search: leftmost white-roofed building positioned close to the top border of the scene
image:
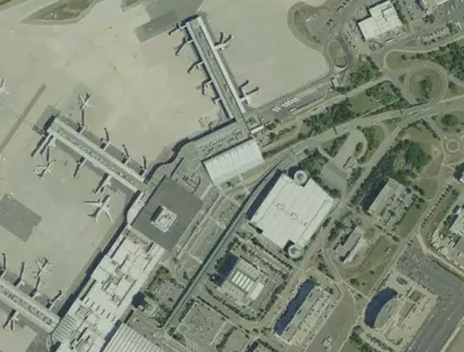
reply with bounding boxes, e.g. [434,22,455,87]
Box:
[358,0,402,39]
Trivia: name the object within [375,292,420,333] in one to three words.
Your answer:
building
